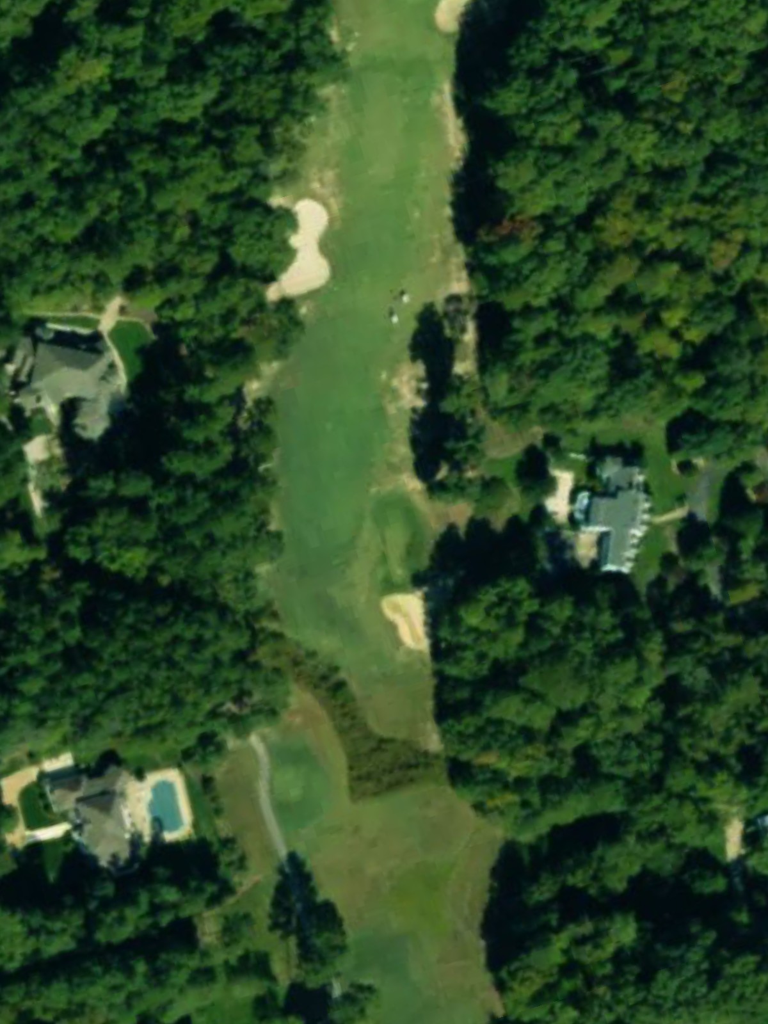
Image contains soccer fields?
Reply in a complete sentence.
No, no soccer field can be seen from above.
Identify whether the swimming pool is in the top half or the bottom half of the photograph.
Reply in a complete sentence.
The swimming pool sits in the bottom half of the picture.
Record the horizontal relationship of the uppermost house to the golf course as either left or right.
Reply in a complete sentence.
Relative to the golf course, the uppermost house lies to the left.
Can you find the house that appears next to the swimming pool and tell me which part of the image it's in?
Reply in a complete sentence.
Look in the bottom left portion of the view to spot the house that appears next to the swimming pool.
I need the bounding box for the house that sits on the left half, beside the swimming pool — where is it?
[47,762,139,868]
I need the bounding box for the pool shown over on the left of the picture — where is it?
[148,778,182,833]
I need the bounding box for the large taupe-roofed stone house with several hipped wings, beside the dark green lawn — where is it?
[15,341,138,440]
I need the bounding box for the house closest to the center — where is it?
[575,456,649,572]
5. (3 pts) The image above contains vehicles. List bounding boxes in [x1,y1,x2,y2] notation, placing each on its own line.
[401,294,408,302]
[392,314,397,322]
